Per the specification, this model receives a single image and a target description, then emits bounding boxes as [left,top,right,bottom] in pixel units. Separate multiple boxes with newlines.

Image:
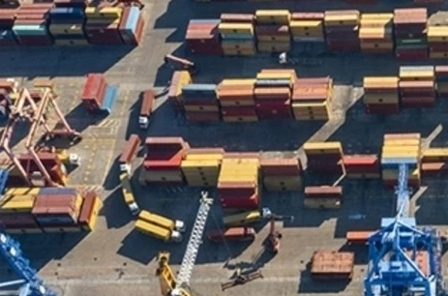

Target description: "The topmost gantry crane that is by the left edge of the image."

[0,91,83,167]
